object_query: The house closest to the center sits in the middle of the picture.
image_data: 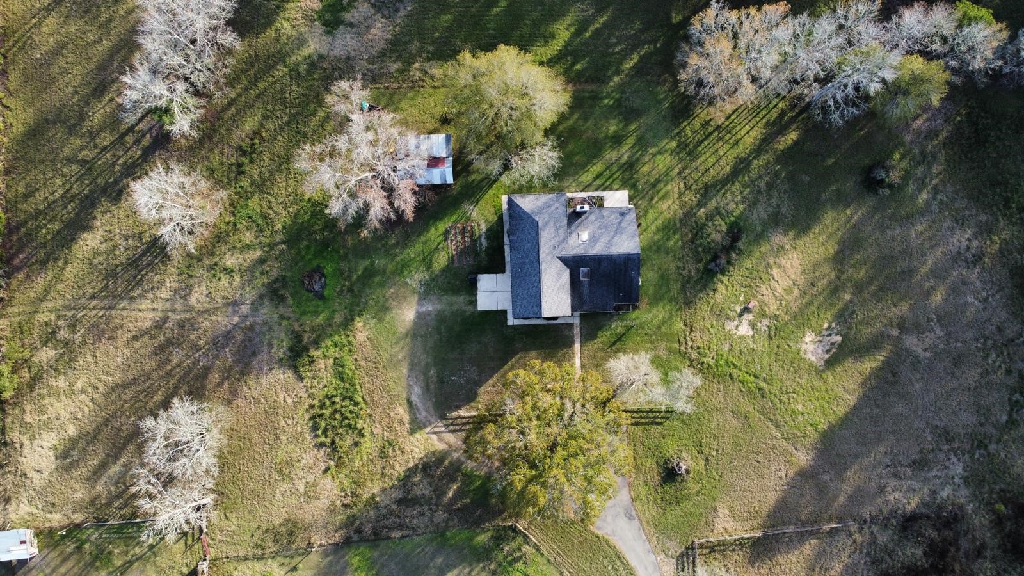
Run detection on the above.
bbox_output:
[506,192,640,319]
